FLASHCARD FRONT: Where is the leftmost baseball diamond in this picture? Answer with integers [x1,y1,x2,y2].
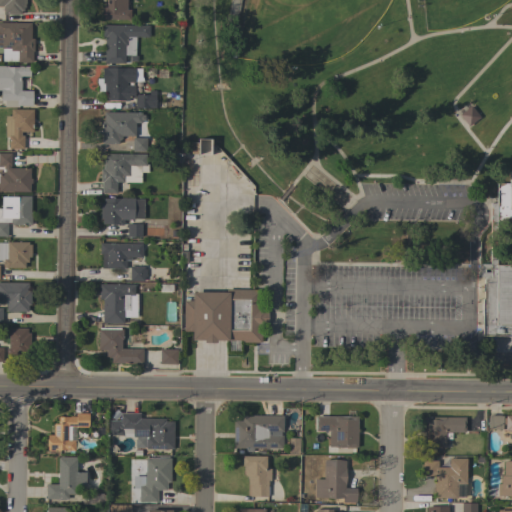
[232,0,390,64]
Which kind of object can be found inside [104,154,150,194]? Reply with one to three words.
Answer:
house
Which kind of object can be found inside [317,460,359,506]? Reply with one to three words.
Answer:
house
